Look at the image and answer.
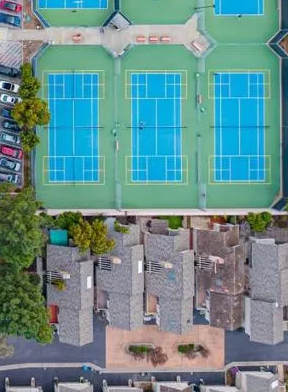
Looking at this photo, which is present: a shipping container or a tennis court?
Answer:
tennis court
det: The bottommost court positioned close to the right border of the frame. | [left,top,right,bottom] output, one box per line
[198,45,281,210]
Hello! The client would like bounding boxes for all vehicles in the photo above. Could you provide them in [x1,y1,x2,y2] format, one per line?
[0,106,20,118]
[0,158,21,170]
[0,119,23,131]
[0,13,20,25]
[0,132,20,144]
[0,65,19,77]
[0,0,22,12]
[0,93,21,104]
[0,170,19,183]
[0,81,20,93]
